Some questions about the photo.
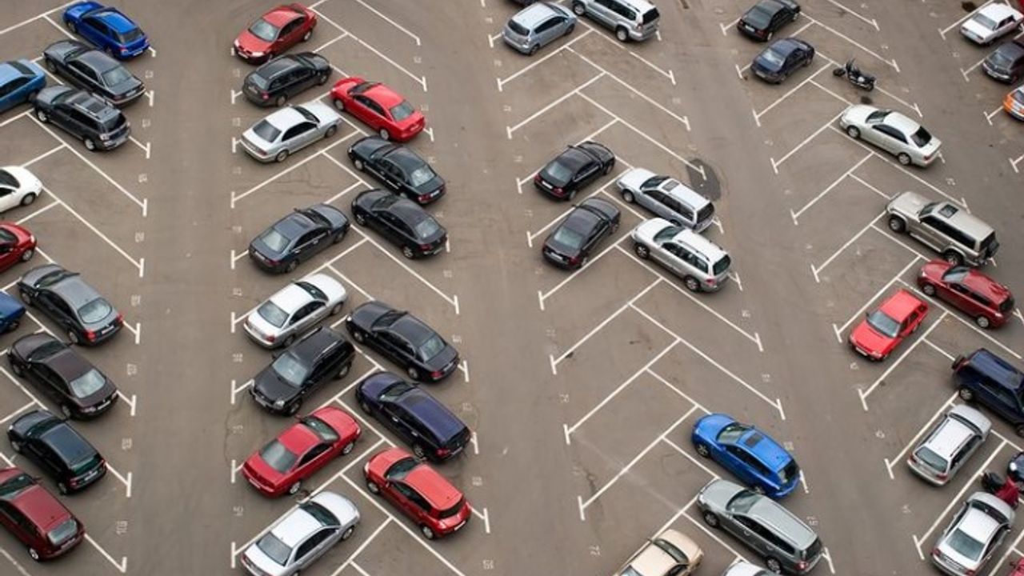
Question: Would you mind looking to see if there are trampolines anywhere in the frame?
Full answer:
No, I find no trampoline anywhere in the image.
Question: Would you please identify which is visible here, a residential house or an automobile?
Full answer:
This aerial view contains an automobile.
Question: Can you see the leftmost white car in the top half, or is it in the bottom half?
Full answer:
The leftmost white car is in the top half of the image.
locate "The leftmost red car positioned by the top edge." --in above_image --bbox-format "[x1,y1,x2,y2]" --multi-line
[235,4,321,61]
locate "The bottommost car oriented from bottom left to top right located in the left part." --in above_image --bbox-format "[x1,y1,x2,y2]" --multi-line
[238,489,364,576]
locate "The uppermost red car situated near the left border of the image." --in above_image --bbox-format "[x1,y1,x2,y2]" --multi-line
[0,221,39,271]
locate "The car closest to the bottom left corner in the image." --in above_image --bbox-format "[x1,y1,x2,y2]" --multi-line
[0,470,85,571]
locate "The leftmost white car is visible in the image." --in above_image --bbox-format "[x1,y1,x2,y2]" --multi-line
[0,168,40,216]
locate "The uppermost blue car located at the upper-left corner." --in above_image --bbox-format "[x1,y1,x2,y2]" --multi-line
[63,2,150,61]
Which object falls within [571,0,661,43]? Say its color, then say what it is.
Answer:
gray car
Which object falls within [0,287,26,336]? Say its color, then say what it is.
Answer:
blue car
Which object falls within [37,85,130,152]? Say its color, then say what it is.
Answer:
gray car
